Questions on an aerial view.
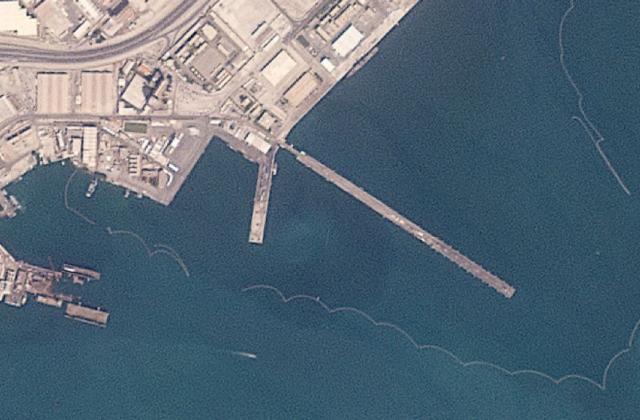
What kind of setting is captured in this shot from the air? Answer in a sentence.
The area seen from above is a port.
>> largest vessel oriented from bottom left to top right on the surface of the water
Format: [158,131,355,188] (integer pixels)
[347,48,378,78]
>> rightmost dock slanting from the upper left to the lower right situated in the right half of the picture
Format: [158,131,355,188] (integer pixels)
[296,154,516,299]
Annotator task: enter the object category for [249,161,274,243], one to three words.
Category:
pier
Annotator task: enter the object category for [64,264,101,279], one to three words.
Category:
ship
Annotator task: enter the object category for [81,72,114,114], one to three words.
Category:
building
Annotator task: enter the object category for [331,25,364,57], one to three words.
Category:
building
